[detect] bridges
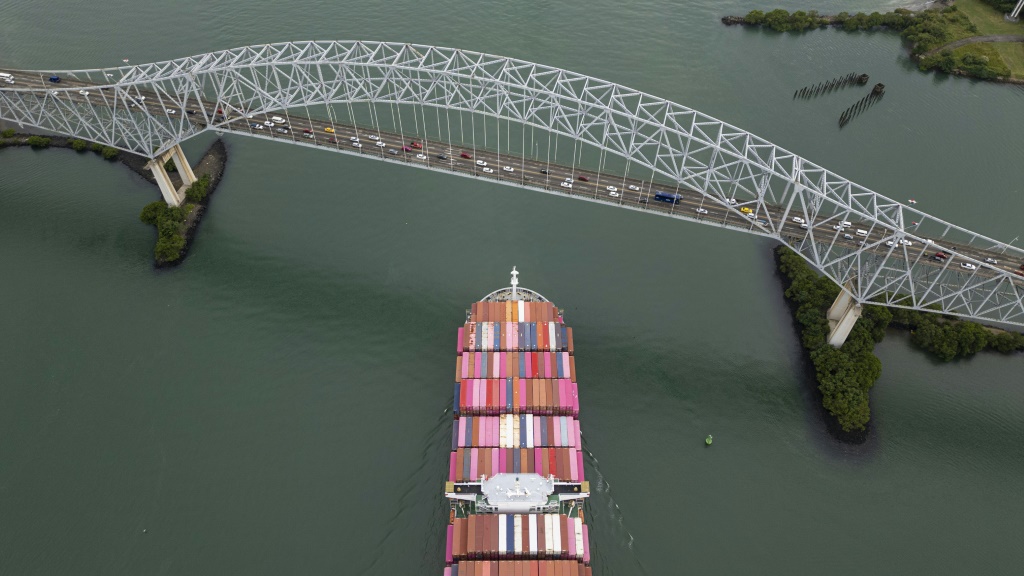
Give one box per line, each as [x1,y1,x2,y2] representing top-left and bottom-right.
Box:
[0,40,1024,347]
